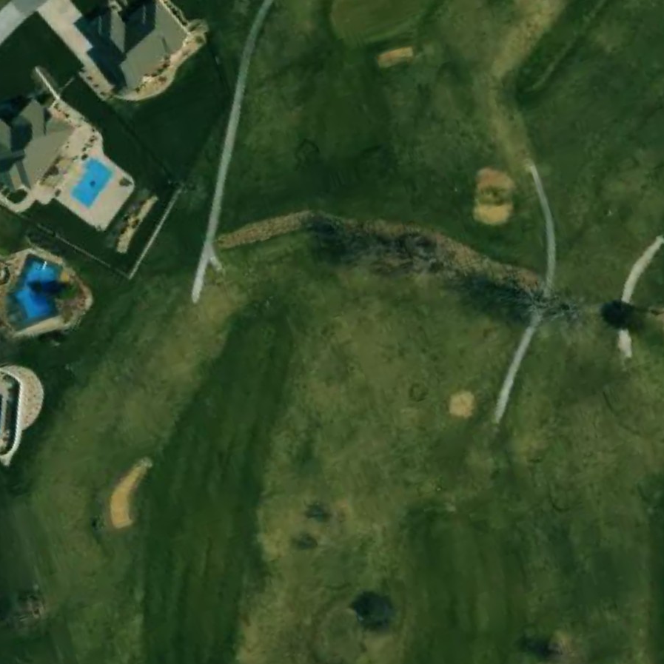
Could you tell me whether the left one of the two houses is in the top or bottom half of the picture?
top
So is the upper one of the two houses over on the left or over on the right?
left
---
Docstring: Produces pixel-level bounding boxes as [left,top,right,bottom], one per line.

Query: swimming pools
[6,253,61,331]
[0,372,17,451]
[23,131,134,231]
